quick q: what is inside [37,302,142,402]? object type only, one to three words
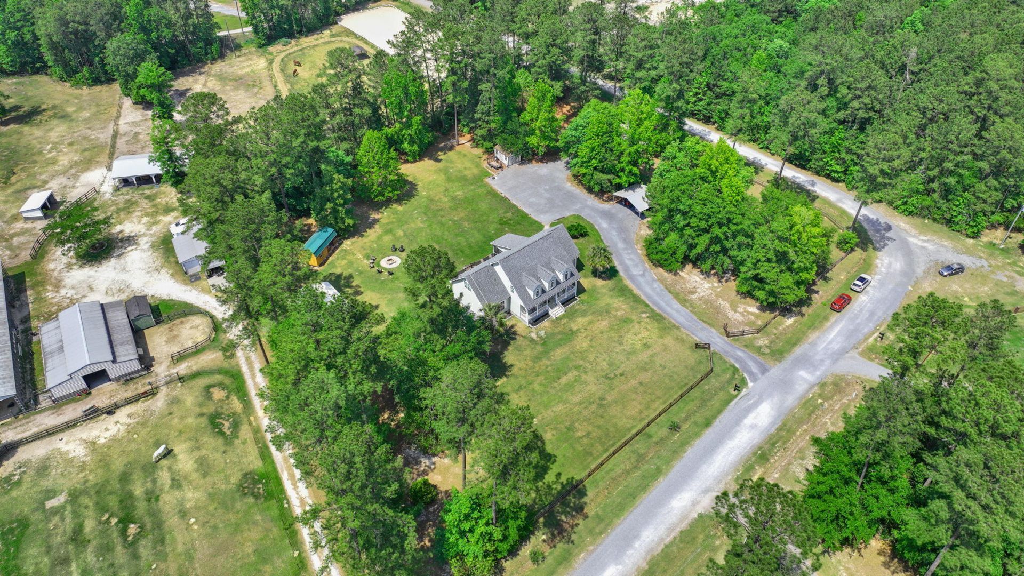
barn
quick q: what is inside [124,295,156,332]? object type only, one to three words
shed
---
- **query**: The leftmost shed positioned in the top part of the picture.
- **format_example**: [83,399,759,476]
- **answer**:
[18,190,56,221]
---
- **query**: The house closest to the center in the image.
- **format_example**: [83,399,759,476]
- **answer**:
[450,225,582,328]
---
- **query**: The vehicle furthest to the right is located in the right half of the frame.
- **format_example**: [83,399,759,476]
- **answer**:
[938,262,969,277]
